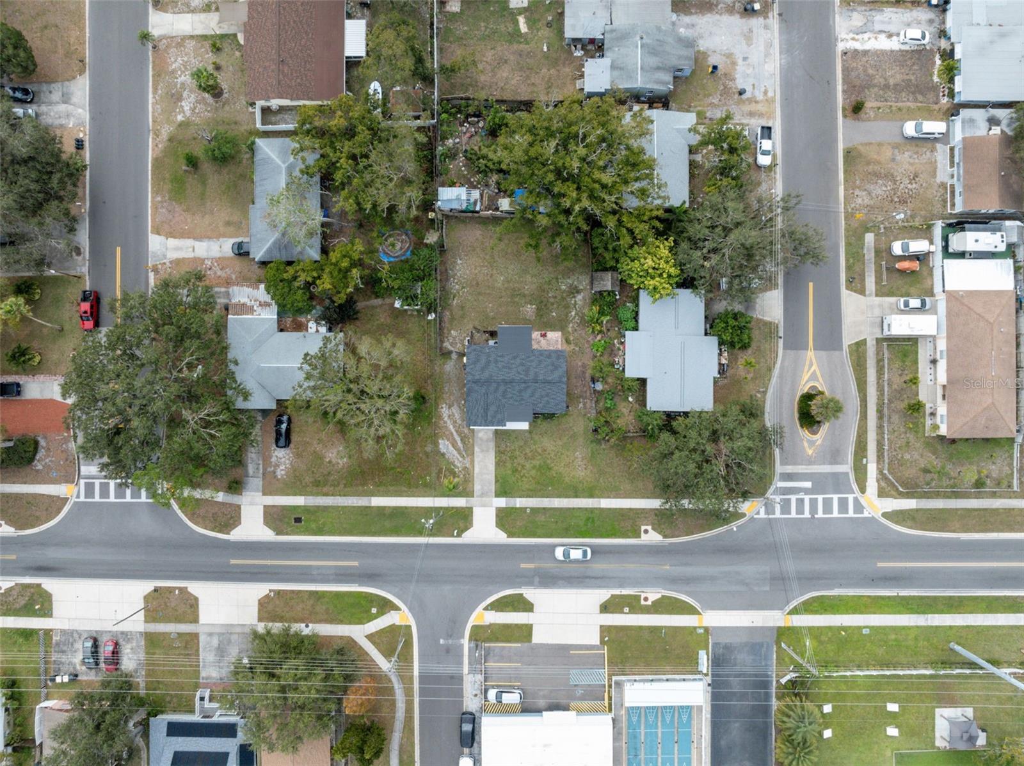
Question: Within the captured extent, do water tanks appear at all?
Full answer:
No, I can't see a single water tank in this photo.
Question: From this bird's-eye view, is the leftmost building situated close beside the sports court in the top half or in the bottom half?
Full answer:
It is in the bottom half that the leftmost building situated close beside the sports court appears.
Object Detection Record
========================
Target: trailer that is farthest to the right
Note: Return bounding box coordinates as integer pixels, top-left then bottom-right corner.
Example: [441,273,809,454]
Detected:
[941,225,1010,259]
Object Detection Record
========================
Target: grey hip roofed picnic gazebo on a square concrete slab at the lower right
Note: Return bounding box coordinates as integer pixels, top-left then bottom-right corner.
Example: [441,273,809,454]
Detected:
[935,708,987,749]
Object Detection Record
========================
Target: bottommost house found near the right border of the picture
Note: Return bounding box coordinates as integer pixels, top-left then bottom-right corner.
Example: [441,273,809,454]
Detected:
[935,259,1016,438]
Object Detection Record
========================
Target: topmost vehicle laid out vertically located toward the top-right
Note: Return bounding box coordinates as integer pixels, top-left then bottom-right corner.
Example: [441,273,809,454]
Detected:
[755,123,774,167]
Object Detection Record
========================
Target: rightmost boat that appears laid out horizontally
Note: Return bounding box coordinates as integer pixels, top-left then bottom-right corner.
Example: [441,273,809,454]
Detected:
[887,260,925,273]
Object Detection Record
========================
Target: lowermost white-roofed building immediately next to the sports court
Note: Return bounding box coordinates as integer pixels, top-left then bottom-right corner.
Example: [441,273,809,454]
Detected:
[482,709,612,766]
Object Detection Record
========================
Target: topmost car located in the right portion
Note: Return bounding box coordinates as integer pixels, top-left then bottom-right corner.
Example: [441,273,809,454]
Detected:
[897,27,931,45]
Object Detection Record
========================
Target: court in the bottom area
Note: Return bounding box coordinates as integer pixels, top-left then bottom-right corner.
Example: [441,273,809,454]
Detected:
[613,680,704,766]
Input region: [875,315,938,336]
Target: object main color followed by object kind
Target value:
white camper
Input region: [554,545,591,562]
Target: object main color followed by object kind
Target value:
white car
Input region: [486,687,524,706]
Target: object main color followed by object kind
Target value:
white car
